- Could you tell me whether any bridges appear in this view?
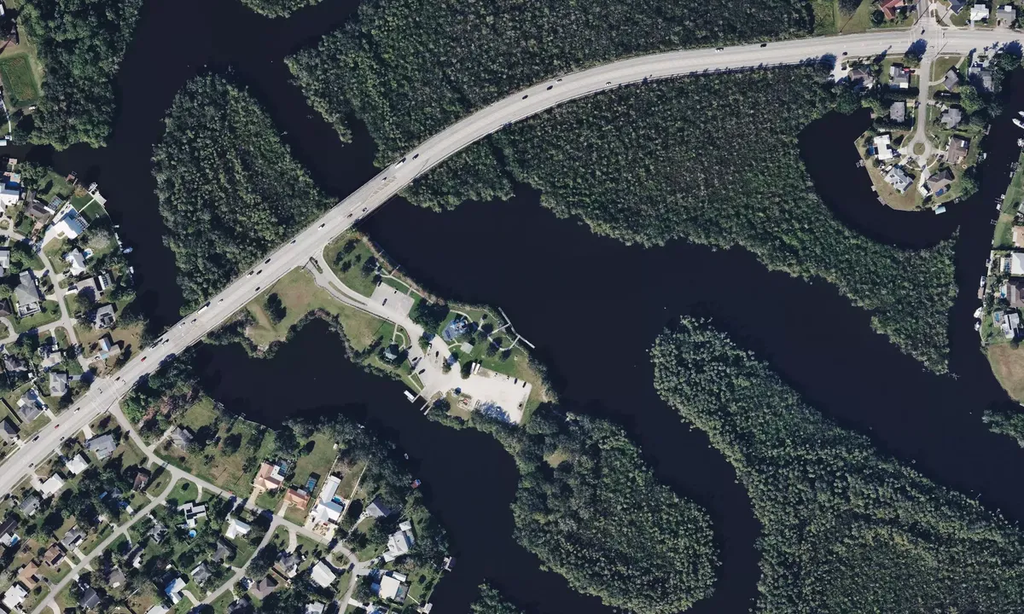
Yes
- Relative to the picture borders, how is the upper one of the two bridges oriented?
on a diagonal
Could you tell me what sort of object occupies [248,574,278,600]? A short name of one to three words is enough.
house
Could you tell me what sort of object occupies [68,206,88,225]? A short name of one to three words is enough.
swimming pool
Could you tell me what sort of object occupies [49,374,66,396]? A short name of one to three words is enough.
house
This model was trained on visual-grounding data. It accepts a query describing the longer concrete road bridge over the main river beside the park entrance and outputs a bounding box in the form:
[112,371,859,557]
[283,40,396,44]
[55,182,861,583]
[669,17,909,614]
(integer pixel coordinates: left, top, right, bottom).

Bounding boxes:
[322,164,407,239]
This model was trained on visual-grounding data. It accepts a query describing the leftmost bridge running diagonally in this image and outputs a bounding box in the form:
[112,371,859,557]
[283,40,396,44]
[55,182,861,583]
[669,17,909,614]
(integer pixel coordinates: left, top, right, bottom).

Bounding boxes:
[142,307,219,369]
